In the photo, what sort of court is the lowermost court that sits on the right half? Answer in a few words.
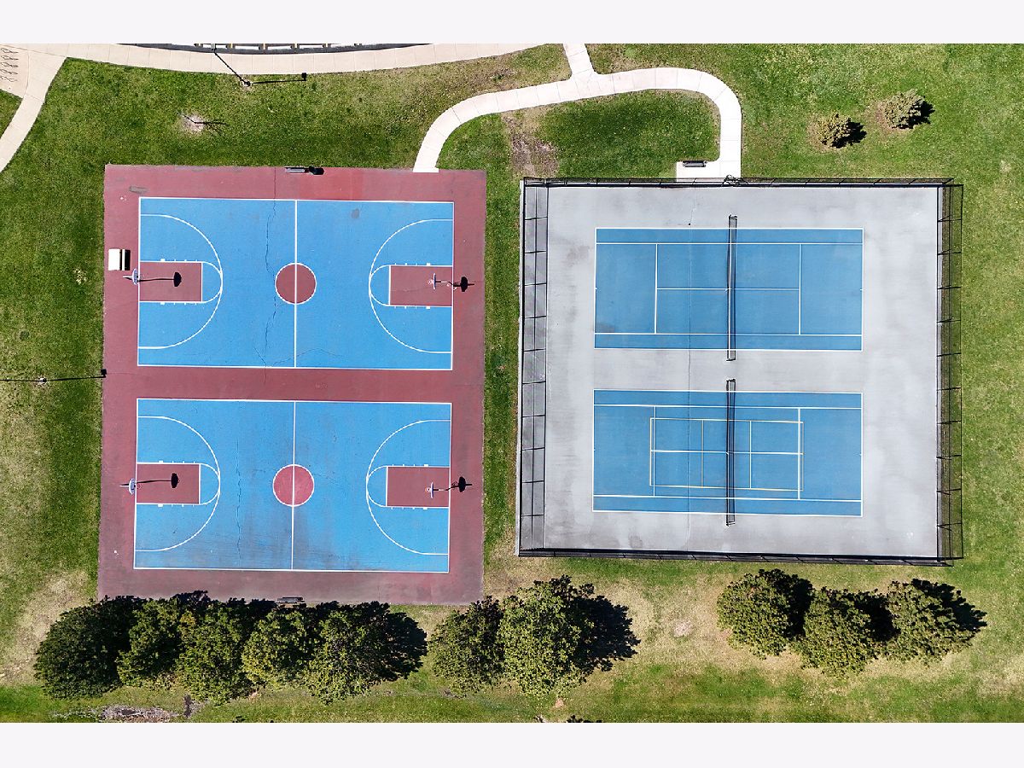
tennis court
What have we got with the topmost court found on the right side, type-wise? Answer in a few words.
tennis court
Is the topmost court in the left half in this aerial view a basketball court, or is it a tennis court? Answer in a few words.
basketball court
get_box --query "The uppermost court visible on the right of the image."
[594,227,864,351]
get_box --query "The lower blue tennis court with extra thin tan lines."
[592,389,863,517]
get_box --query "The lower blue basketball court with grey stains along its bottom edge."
[133,399,452,573]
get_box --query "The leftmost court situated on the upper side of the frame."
[137,198,454,371]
